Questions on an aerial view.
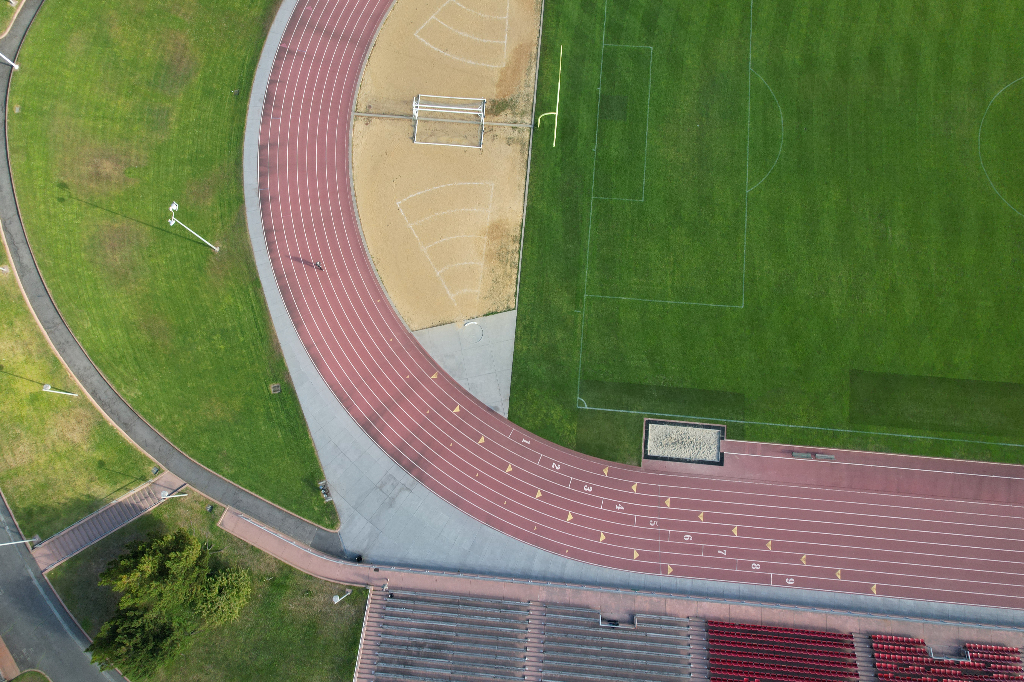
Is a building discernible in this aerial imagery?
No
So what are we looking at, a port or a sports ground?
sports ground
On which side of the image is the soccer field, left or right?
right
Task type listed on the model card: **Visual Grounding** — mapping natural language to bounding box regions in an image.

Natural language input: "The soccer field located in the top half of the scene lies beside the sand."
[508,0,1024,465]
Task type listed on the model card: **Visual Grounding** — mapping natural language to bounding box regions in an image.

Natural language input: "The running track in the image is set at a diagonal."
[258,0,1024,609]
